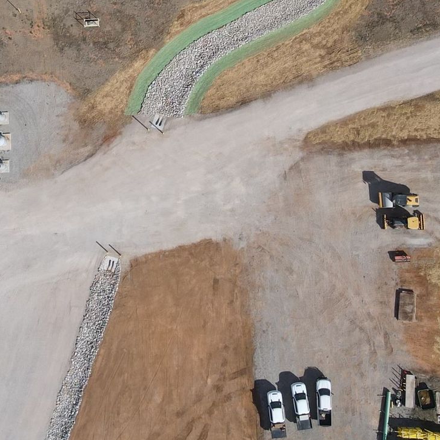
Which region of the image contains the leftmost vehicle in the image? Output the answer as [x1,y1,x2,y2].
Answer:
[267,389,288,440]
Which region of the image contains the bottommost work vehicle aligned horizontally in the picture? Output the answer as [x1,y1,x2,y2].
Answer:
[385,215,427,232]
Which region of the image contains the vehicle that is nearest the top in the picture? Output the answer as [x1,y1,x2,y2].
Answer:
[379,192,424,209]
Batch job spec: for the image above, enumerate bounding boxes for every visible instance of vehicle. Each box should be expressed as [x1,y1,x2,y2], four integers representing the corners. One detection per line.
[385,215,427,232]
[267,389,288,440]
[290,381,314,433]
[379,192,424,209]
[316,375,335,429]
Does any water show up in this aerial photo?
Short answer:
No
